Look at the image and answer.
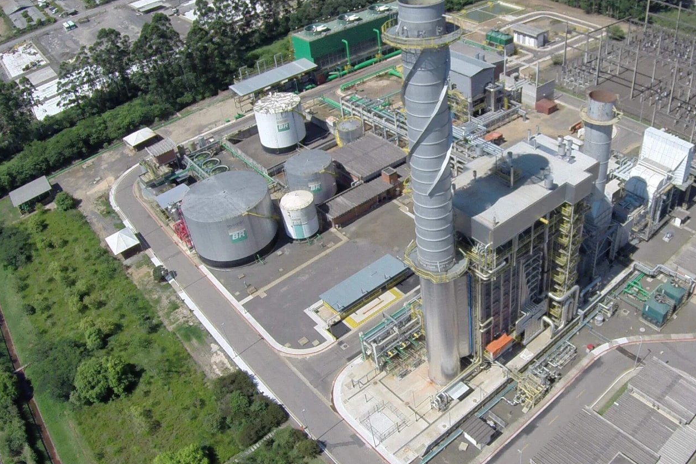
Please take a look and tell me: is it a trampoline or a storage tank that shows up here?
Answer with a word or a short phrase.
storage tank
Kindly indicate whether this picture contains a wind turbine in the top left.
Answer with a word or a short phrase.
No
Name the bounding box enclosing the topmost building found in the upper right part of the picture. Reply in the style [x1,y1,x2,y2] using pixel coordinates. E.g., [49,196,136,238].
[513,22,547,45]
